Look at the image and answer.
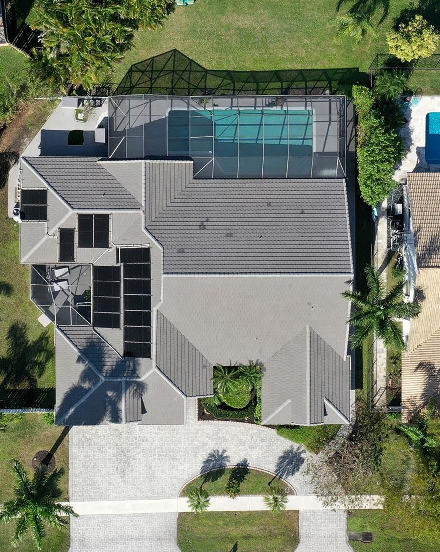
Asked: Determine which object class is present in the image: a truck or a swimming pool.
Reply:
swimming pool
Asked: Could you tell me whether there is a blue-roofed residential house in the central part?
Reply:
No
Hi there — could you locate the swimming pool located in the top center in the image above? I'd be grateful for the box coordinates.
[169,110,312,176]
